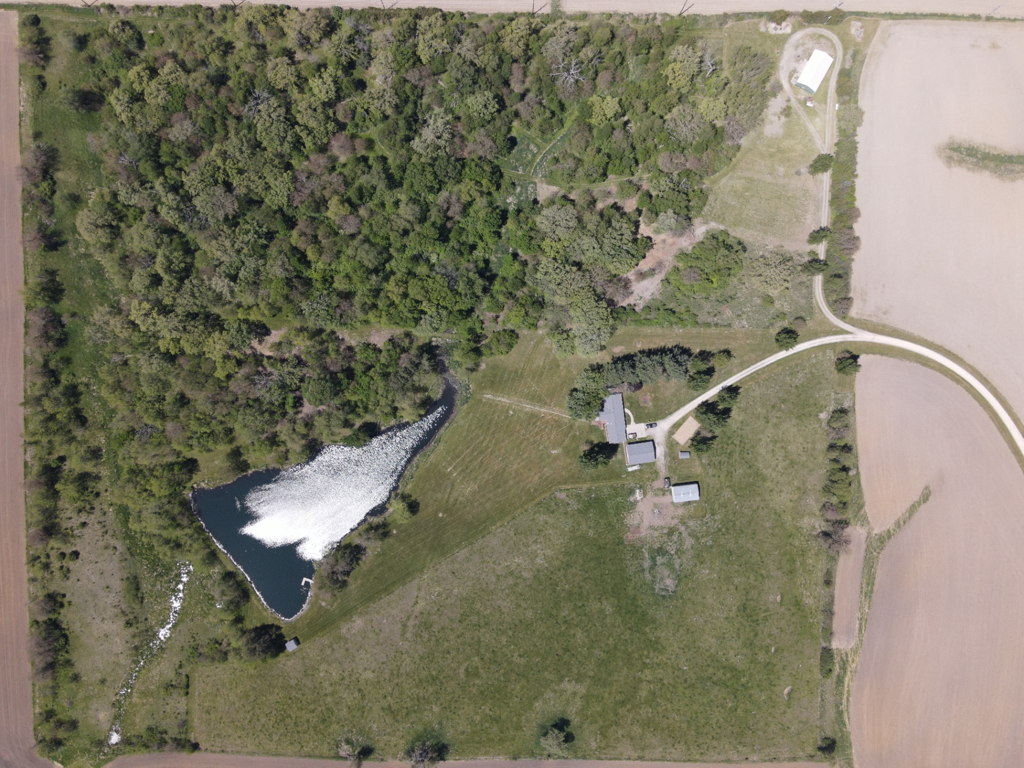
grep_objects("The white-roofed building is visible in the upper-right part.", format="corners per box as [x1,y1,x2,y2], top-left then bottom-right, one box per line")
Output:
[795,49,834,94]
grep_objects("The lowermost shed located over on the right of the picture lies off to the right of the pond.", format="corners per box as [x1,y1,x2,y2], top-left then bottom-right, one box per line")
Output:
[671,484,699,502]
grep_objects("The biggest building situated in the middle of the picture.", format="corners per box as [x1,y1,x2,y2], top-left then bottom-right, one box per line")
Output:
[598,394,627,443]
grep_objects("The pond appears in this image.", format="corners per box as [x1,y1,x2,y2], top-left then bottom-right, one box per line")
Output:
[194,343,456,619]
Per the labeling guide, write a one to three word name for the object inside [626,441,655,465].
building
